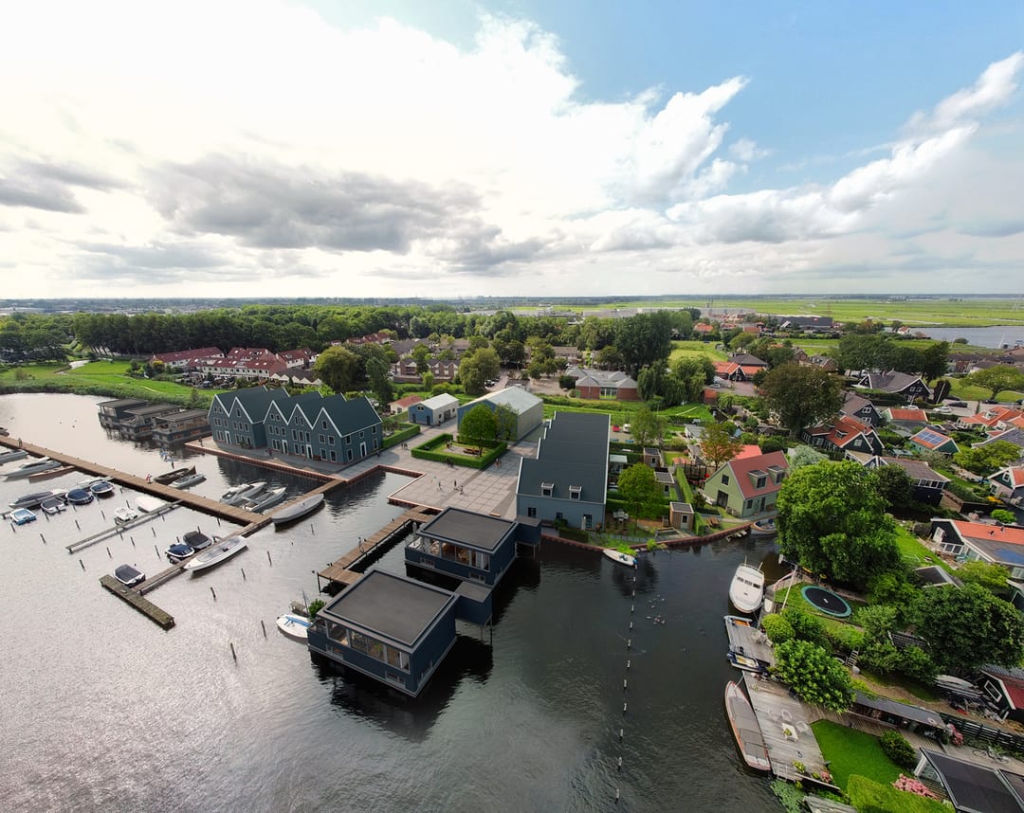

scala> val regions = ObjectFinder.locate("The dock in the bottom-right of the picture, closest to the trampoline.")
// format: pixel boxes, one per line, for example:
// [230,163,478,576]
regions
[758,572,795,637]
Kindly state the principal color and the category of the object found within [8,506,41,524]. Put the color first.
white boat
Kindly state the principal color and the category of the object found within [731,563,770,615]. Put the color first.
white boat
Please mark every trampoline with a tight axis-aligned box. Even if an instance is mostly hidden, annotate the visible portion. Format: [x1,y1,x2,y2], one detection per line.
[802,587,853,619]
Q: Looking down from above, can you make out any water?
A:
Yes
